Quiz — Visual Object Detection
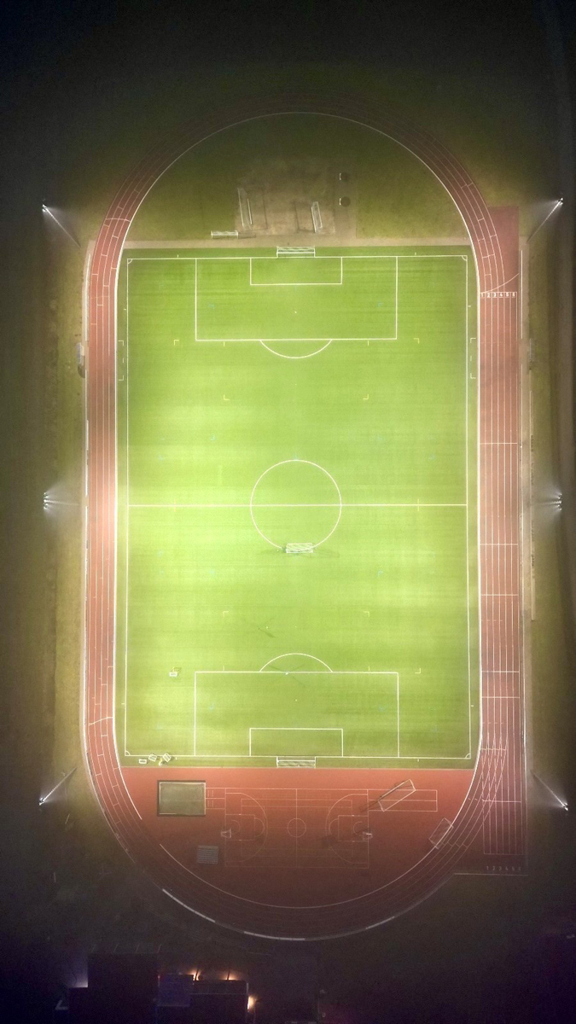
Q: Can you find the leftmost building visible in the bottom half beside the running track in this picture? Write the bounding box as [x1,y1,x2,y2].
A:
[68,944,161,1024]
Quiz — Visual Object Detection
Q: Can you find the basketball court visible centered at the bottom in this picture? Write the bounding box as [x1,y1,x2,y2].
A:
[225,788,368,868]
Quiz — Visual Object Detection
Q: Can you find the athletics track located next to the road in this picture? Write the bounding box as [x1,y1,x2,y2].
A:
[87,87,526,934]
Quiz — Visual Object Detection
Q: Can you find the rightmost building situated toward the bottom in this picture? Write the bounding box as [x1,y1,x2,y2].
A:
[189,971,249,1024]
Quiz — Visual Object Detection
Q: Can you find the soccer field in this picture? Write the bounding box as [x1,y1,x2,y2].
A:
[115,245,481,769]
